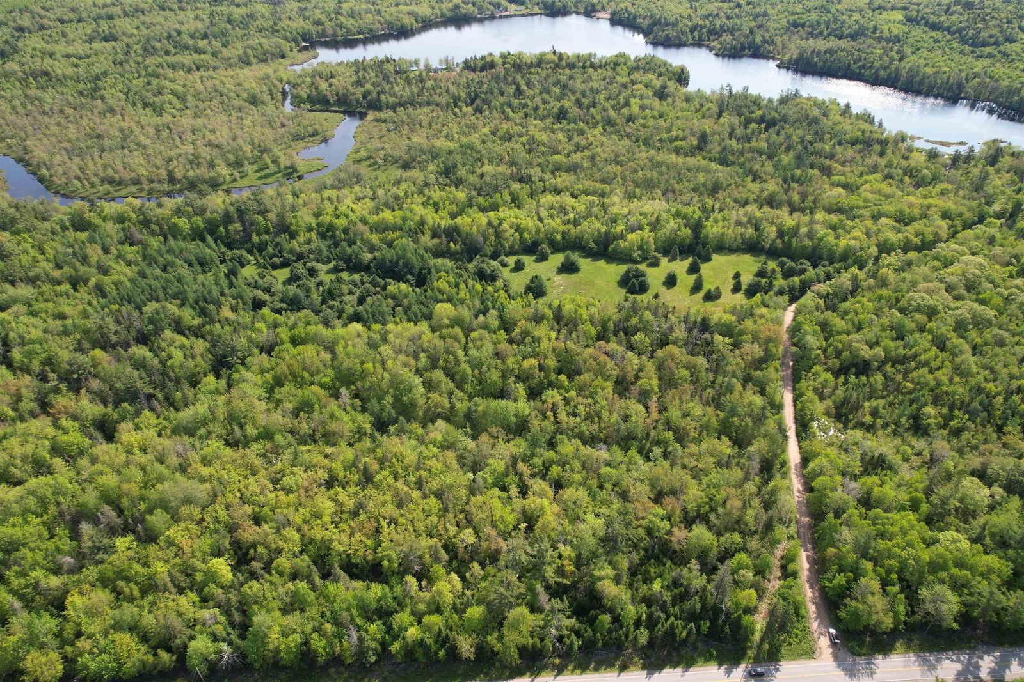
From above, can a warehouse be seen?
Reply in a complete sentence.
No, this view has no warehouse in it.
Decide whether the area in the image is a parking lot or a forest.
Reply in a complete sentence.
The picture captures a forest.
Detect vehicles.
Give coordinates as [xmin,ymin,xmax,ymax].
[827,627,842,645]
[749,669,766,678]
